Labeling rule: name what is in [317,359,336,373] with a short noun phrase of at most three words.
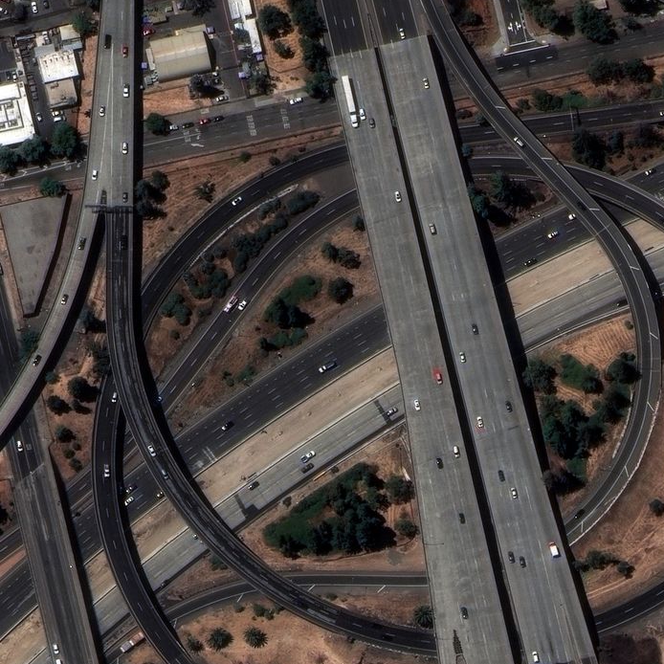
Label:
vehicle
